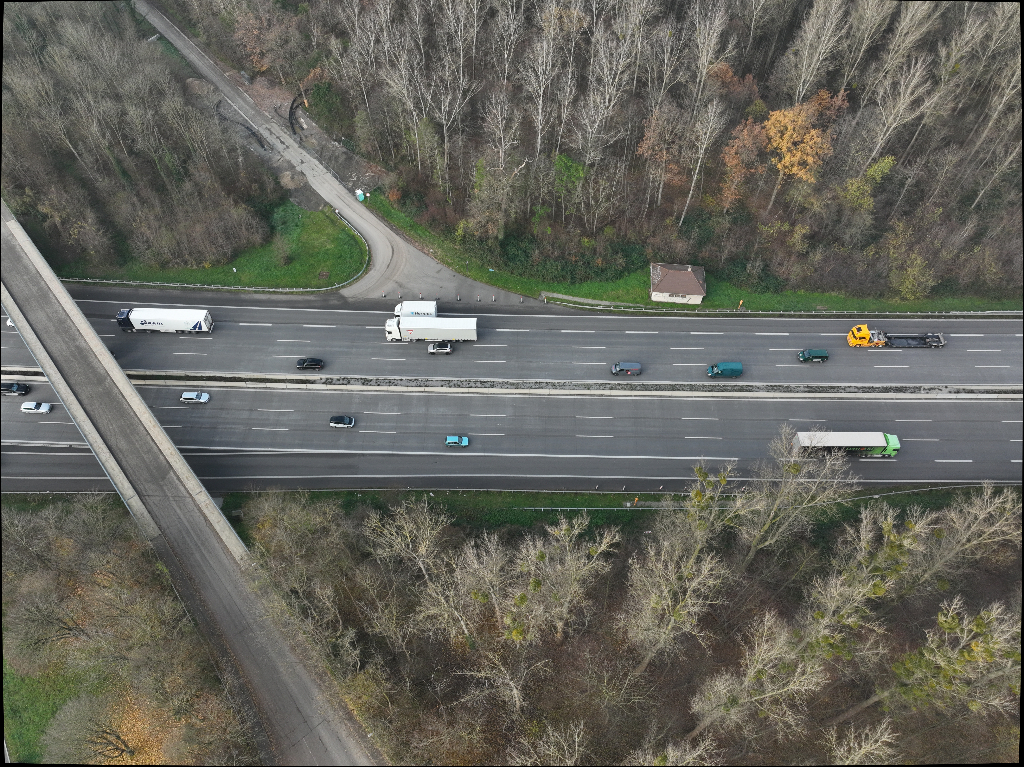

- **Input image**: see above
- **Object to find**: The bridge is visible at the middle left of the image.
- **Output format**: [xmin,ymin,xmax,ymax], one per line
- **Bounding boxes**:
[0,192,254,570]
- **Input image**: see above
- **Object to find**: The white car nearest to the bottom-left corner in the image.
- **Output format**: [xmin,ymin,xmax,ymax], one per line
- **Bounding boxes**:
[20,400,54,413]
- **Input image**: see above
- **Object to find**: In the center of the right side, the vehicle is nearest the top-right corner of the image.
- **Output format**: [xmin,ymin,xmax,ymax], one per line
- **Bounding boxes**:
[844,323,948,347]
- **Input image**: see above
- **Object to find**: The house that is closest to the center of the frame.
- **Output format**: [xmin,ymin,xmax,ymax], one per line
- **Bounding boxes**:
[650,264,707,304]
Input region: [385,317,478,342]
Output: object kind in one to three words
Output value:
truck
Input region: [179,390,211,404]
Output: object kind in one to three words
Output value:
car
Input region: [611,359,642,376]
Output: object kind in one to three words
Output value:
vehicle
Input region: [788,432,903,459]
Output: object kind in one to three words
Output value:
truck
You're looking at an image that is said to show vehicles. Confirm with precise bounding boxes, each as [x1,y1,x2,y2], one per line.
[115,307,215,333]
[0,381,32,395]
[611,359,642,376]
[385,317,478,342]
[392,301,438,321]
[179,390,211,404]
[796,349,830,363]
[428,341,452,354]
[20,400,54,413]
[844,323,948,347]
[5,318,18,328]
[706,360,744,378]
[329,414,356,428]
[788,432,903,459]
[446,434,469,447]
[297,357,325,370]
